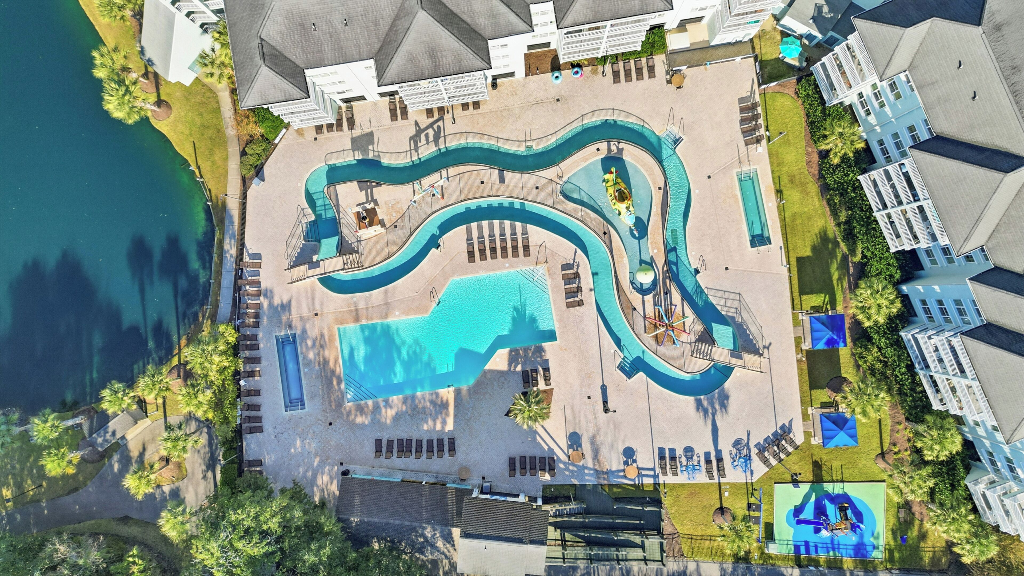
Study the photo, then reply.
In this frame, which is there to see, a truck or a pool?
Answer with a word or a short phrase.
pool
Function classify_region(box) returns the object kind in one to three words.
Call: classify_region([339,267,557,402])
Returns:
swimming pool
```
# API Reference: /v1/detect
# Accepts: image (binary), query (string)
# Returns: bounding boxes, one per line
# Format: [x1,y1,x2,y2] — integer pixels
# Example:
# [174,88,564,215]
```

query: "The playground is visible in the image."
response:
[797,499,862,543]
